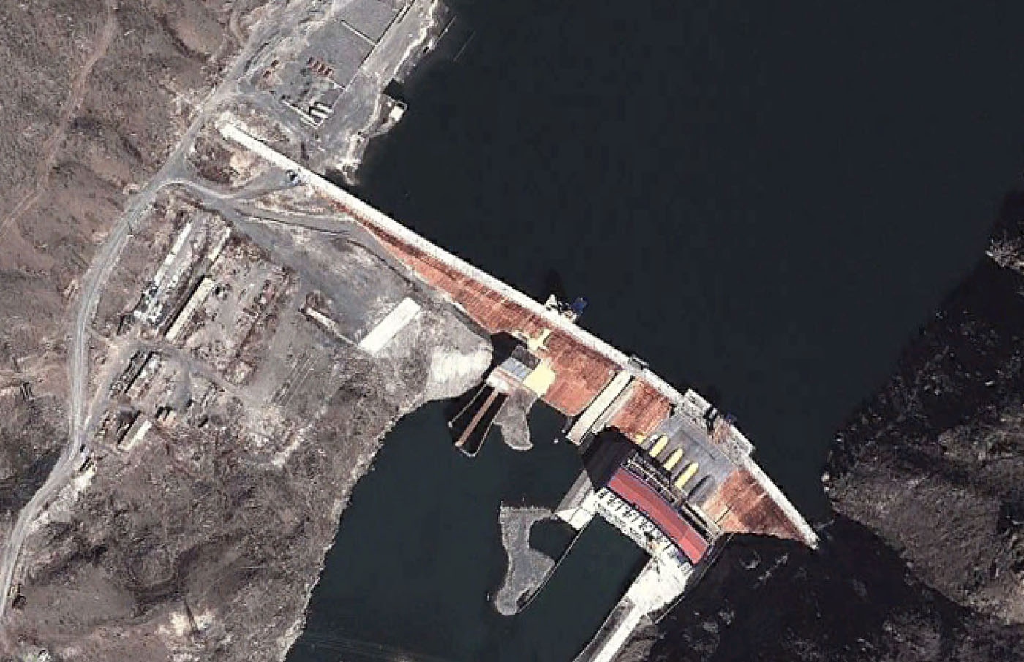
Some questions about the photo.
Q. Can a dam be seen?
Yes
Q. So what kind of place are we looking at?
port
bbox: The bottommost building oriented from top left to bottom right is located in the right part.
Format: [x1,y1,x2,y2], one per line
[605,468,708,566]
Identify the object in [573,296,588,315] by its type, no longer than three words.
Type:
ship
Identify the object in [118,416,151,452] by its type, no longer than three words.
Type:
shed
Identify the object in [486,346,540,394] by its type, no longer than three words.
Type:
building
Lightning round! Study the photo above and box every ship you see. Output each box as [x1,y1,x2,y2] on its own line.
[727,412,738,422]
[573,296,588,315]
